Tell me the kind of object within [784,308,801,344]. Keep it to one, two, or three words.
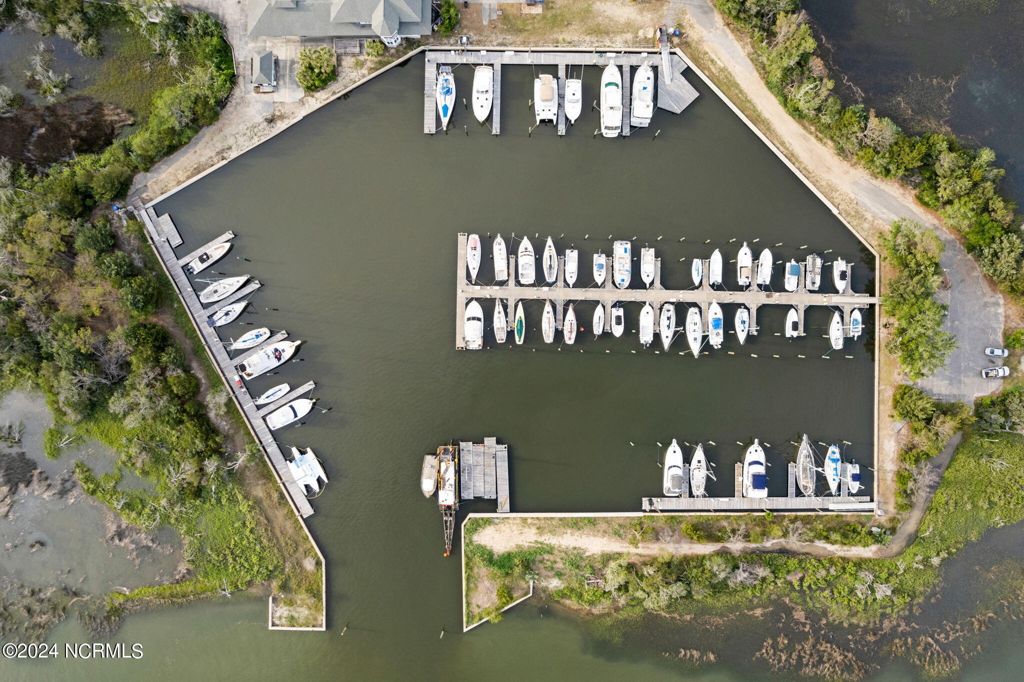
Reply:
boat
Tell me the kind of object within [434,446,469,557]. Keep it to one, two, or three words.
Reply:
ship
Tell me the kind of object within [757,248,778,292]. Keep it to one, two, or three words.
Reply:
boat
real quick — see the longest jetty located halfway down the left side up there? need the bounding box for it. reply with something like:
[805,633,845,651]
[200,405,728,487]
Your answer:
[148,206,316,518]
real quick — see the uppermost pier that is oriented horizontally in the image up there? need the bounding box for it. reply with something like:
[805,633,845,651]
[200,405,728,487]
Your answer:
[424,52,699,136]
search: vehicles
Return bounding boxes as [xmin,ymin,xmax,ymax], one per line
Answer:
[983,347,1008,358]
[979,366,1010,378]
